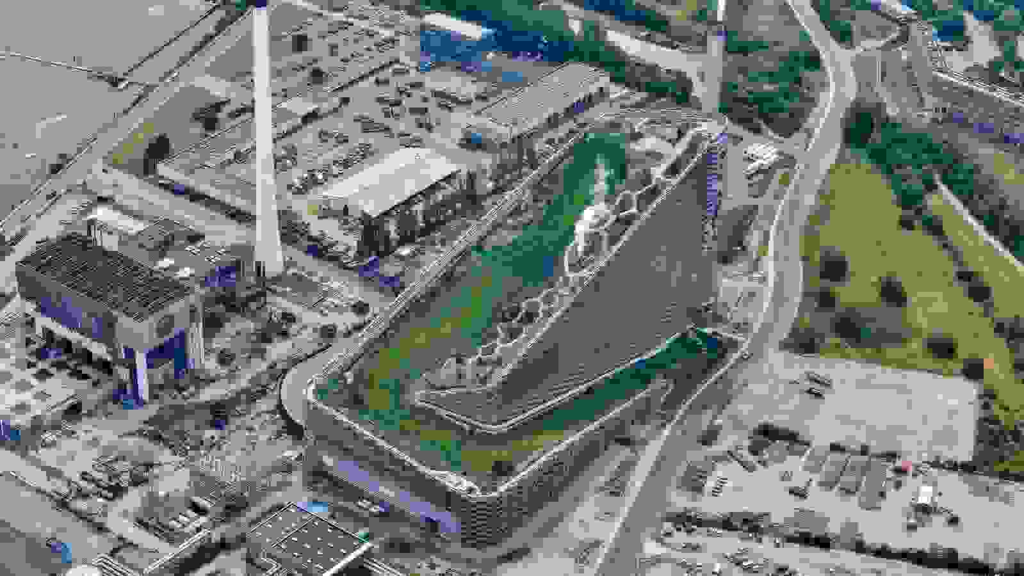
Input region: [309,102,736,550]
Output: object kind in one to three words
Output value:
building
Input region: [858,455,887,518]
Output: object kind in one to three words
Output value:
shed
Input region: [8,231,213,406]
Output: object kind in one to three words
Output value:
building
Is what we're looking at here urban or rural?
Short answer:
urban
